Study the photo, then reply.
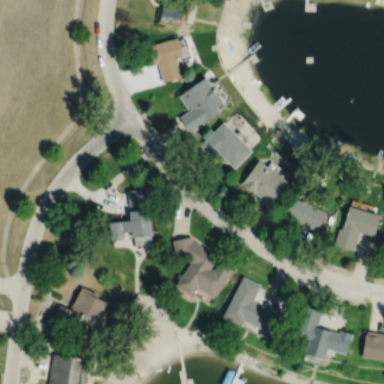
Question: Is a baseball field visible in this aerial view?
No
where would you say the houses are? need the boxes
[224,277,266,328]
[202,123,254,170]
[160,6,184,26]
[336,207,382,254]
[72,288,107,319]
[239,156,287,202]
[364,332,384,362]
[51,356,82,384]
[110,211,154,242]
[154,40,183,84]
[288,198,329,230]
[172,236,234,304]
[180,80,226,136]
[304,308,356,359]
